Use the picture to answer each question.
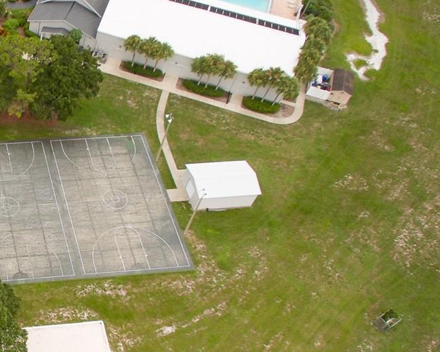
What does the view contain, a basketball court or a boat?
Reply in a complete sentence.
The one in the frame is a basketball court.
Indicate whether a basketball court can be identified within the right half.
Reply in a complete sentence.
No, there's no basketball court to be seen within the right half.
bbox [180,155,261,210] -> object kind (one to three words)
shed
